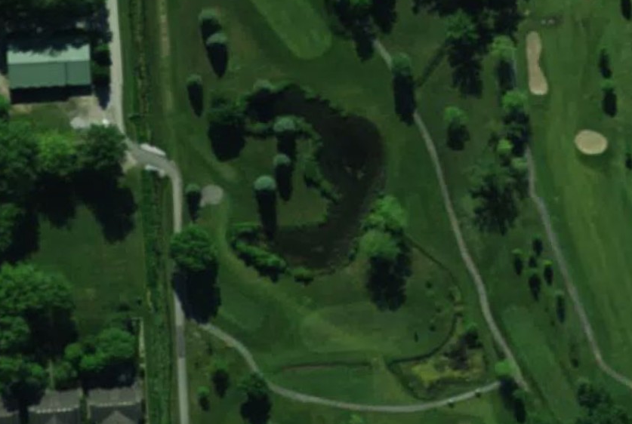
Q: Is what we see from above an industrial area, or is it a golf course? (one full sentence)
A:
It's a golf course.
